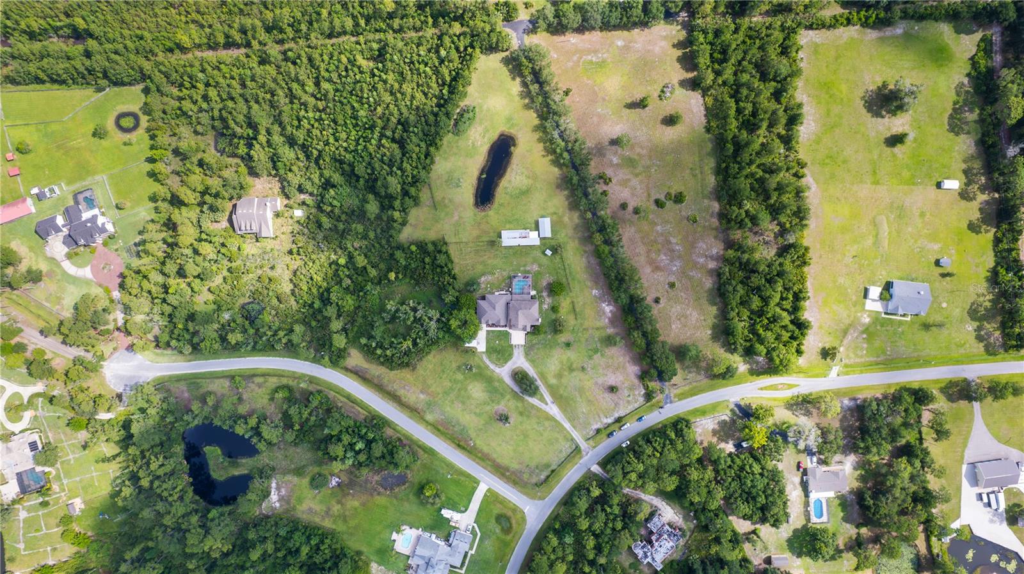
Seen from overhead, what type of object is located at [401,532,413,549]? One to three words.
swimming pool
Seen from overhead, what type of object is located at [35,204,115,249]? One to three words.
house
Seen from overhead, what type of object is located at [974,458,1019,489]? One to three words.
building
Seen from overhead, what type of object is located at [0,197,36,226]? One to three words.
barn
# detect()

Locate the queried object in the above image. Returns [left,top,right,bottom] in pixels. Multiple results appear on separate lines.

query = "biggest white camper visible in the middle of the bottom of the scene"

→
[440,510,460,524]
